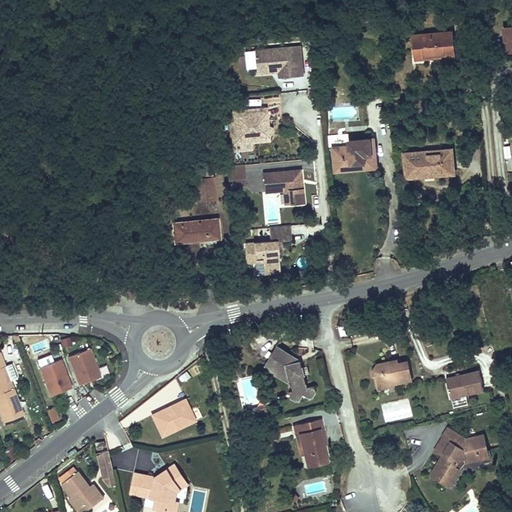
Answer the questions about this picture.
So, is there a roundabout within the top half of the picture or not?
No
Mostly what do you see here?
trees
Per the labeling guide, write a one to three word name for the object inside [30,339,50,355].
swimming pool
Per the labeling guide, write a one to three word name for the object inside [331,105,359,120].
swimming pool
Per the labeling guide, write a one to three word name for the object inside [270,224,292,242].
shed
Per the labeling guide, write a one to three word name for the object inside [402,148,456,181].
house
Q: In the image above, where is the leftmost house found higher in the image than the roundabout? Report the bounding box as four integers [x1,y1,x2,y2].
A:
[174,218,222,245]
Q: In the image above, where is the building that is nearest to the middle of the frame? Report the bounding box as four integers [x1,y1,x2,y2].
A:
[244,241,282,274]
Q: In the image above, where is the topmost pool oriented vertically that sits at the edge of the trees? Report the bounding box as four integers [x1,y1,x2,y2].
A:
[268,199,280,224]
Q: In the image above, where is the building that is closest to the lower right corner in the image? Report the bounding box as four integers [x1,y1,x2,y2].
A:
[430,426,490,488]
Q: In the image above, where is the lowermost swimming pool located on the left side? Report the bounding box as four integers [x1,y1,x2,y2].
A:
[190,486,210,512]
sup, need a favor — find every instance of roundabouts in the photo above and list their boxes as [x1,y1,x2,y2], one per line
[127,311,190,374]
